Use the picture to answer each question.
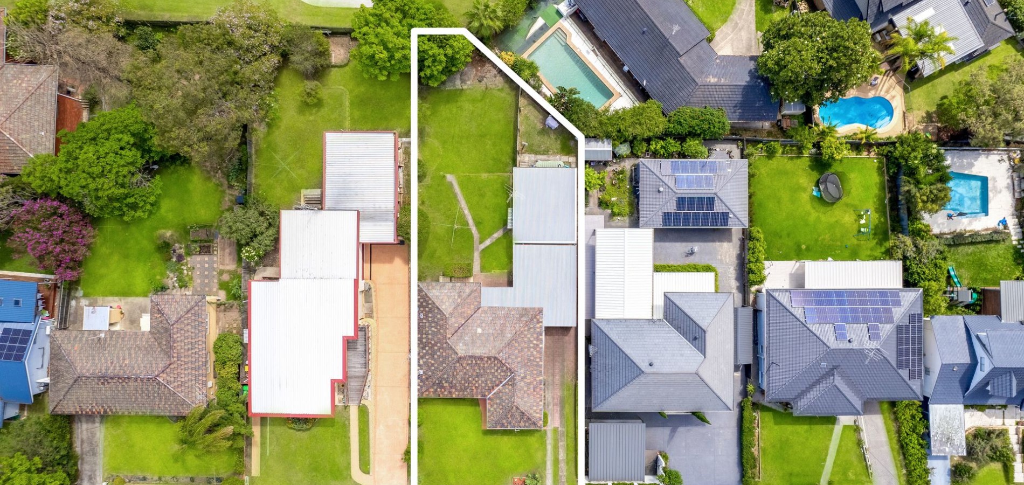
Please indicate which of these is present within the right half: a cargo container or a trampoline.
trampoline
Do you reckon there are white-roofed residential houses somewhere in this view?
Yes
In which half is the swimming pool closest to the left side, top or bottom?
top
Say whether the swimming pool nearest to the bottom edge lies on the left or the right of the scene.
right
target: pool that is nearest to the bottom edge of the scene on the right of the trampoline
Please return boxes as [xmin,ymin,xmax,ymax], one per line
[942,171,989,217]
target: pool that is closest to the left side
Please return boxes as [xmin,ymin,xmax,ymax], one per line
[524,23,621,125]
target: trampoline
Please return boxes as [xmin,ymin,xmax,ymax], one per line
[819,173,852,203]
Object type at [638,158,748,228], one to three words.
building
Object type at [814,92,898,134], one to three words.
swimming pool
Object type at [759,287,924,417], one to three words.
house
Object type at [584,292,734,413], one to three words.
house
